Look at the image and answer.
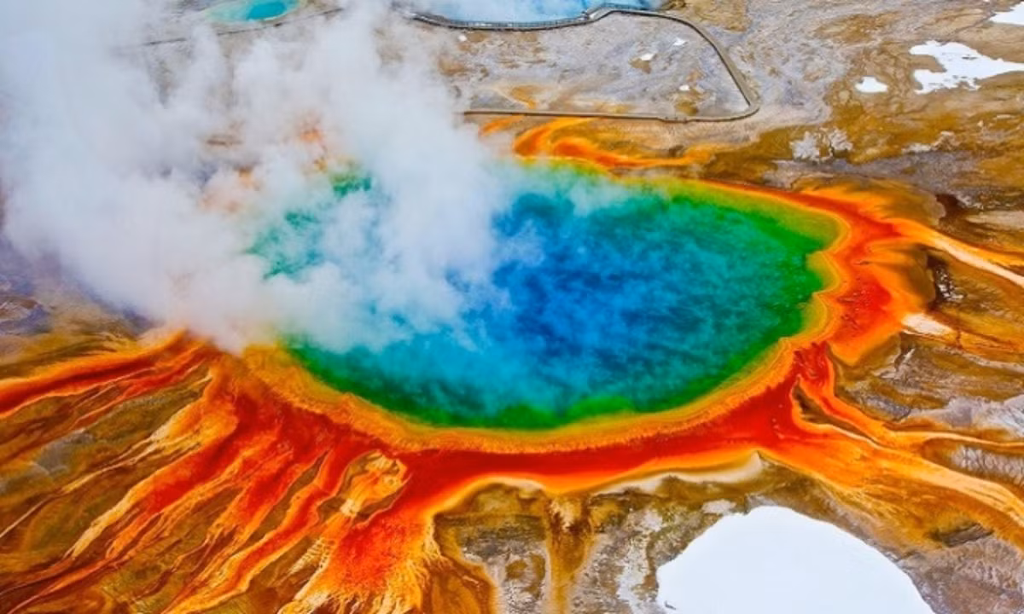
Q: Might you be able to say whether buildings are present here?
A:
No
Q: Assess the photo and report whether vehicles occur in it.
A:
No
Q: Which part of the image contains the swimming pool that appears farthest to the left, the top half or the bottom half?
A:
top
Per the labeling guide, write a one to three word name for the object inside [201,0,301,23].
swimming pool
